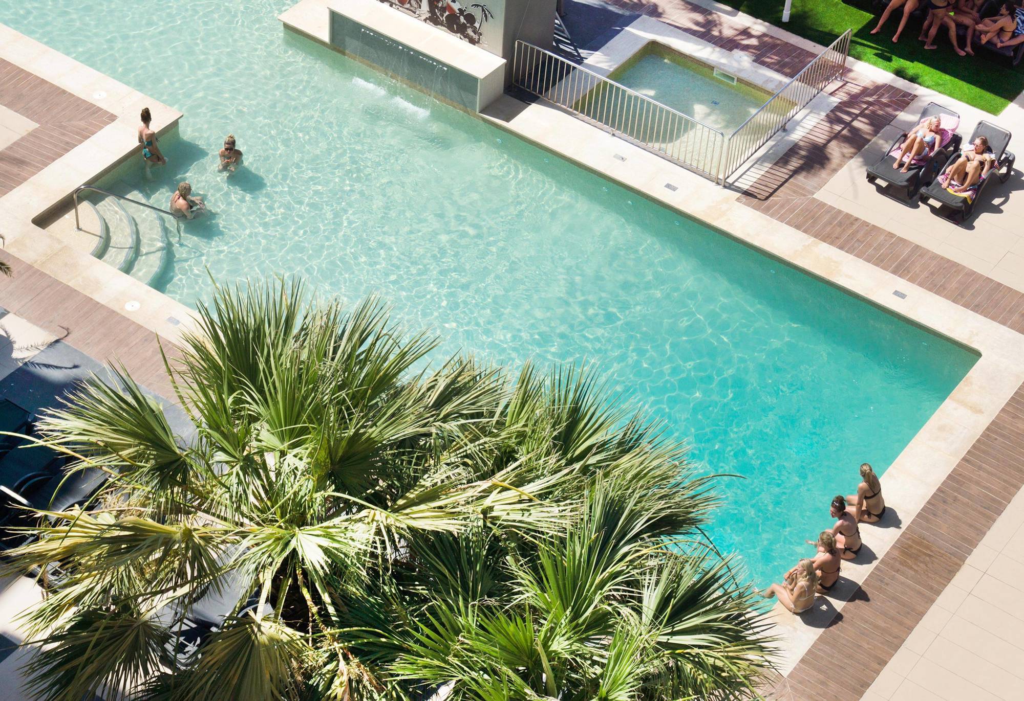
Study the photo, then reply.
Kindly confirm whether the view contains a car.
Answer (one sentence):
No, there appears to be no car in this shot.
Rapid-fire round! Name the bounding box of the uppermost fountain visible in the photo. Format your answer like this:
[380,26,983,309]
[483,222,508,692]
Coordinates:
[327,0,506,120]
